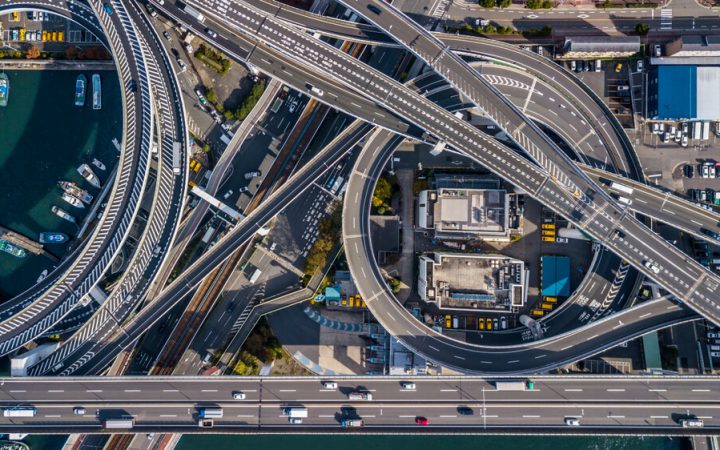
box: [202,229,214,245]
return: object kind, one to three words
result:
vehicle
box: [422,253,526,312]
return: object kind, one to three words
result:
building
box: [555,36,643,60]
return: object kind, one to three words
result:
building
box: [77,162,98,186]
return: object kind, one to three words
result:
boat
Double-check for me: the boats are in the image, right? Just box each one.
[77,162,98,186]
[0,237,28,255]
[0,439,32,450]
[76,75,86,106]
[60,183,94,206]
[92,158,105,169]
[51,205,75,221]
[0,72,8,106]
[61,191,84,207]
[39,232,69,243]
[35,269,49,282]
[92,74,102,109]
